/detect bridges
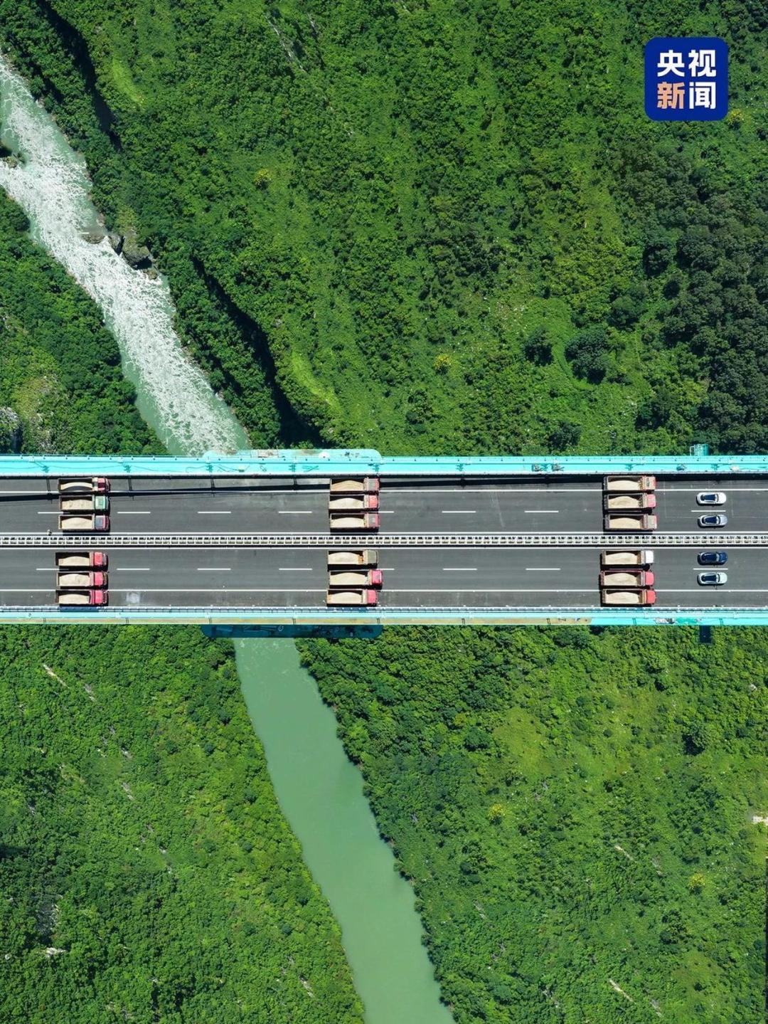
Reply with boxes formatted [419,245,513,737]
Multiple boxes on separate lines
[0,449,768,637]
